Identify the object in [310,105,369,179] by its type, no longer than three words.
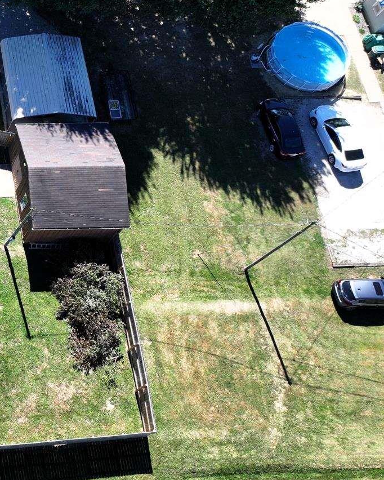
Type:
car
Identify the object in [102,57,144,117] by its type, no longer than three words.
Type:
trailer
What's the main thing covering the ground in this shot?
grass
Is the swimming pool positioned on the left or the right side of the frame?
right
